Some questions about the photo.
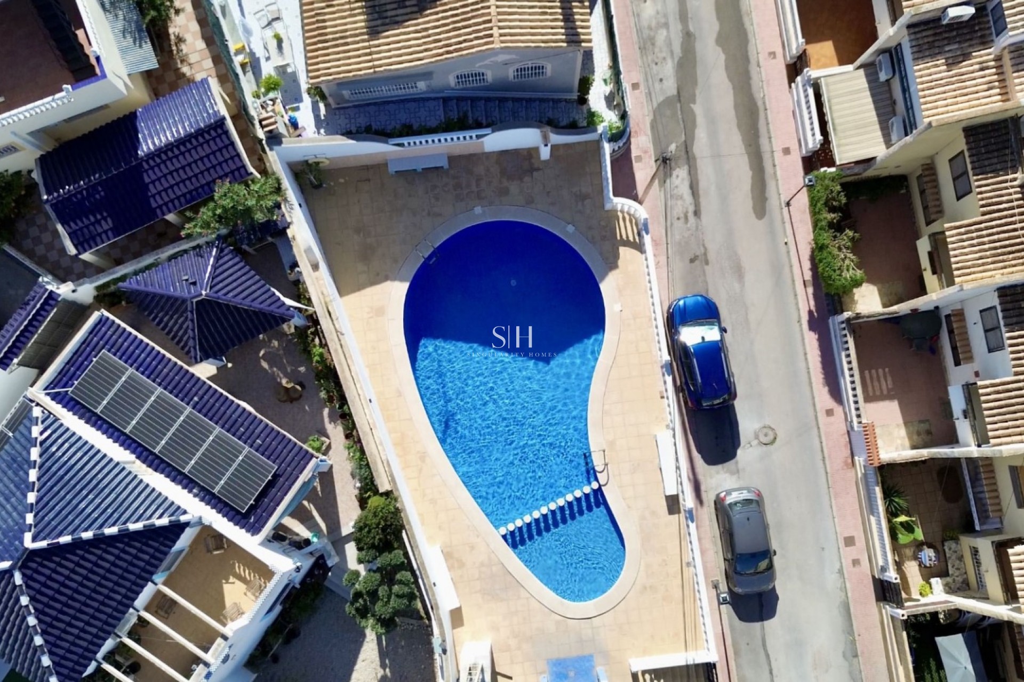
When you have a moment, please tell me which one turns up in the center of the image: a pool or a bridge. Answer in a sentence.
The feature located in the center of the image is a pool.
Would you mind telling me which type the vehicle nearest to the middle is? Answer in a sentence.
The vehicle nearest to the middle in the image is an automobile.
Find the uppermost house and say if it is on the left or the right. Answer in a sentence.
It is on the right.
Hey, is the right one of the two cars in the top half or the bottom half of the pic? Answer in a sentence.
The right one of the two cars is in the bottom half of the image.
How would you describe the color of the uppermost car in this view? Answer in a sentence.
The uppermost car looks blue in the image.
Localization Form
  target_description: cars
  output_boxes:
[712,485,781,599]
[666,295,734,412]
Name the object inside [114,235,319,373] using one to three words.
gazebo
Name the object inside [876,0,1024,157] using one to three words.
house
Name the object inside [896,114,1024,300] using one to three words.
house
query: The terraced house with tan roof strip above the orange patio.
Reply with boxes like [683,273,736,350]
[875,0,934,35]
